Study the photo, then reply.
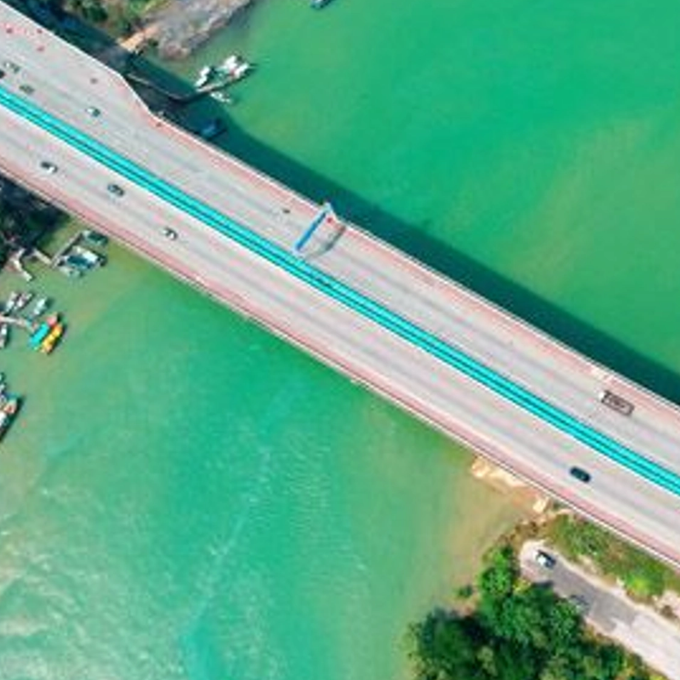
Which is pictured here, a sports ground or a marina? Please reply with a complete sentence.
This image shows a marina.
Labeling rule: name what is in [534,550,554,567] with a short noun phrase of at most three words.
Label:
car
